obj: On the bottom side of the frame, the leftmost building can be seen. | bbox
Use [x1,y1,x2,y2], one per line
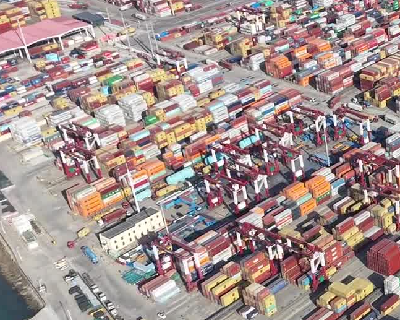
[6,214,46,237]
